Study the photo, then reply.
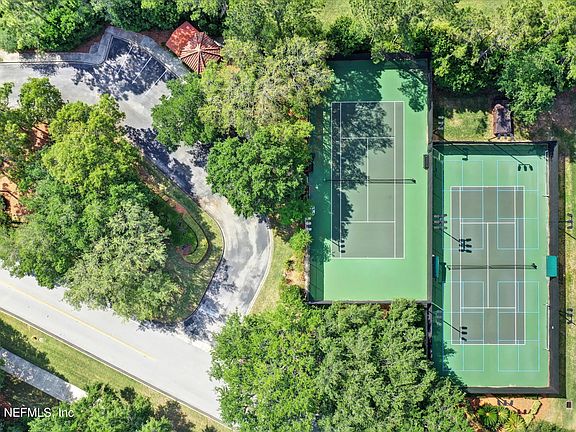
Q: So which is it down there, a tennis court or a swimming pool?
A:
tennis court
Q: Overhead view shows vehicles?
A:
No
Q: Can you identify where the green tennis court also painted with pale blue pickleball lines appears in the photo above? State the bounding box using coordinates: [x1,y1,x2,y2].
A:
[433,143,549,387]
